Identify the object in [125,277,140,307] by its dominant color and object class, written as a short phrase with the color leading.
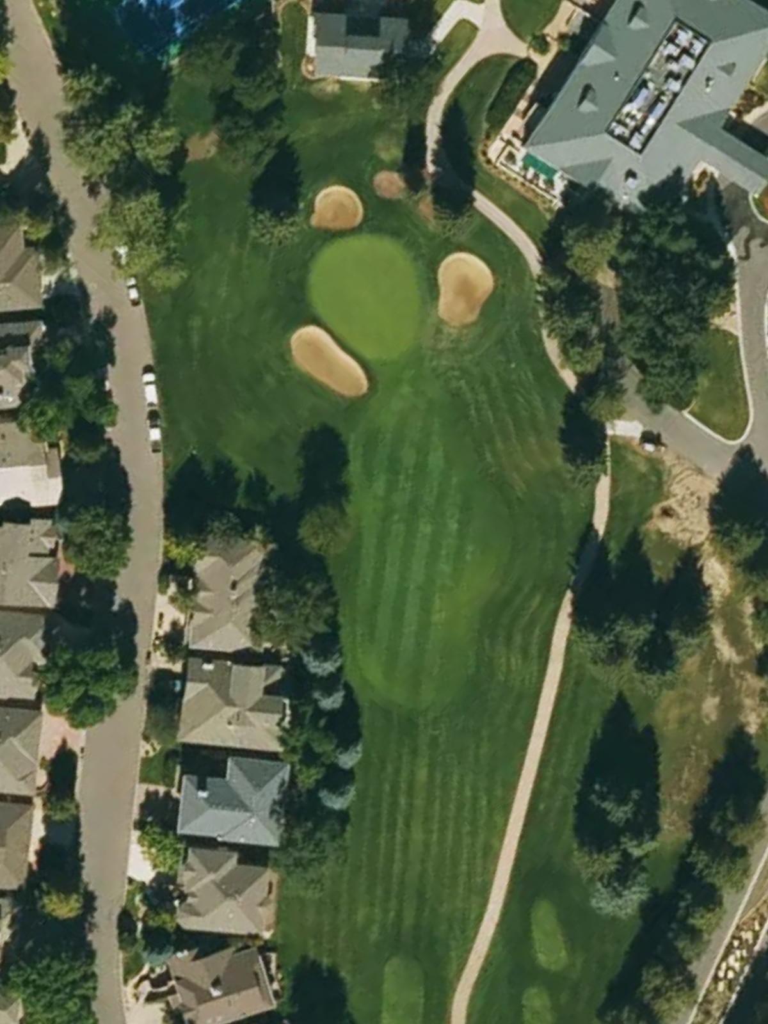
white car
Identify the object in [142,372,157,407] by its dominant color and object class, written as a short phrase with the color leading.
white vehicle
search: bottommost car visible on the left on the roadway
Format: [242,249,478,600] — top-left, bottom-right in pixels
[147,420,162,453]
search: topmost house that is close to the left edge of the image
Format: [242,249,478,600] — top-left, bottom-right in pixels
[0,225,41,310]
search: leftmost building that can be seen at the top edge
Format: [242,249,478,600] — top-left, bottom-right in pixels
[313,12,410,77]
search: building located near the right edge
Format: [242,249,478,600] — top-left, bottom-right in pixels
[524,0,768,229]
